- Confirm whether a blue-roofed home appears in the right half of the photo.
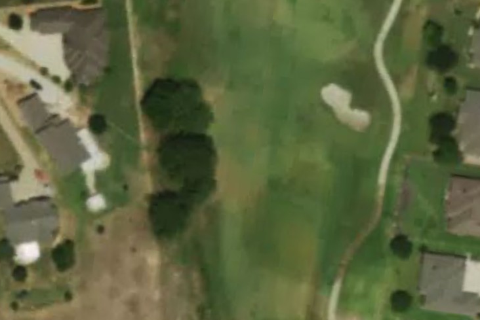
No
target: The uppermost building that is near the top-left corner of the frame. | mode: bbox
[29,6,107,89]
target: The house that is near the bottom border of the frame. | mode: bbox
[419,253,480,317]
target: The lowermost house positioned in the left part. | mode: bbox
[0,179,60,246]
